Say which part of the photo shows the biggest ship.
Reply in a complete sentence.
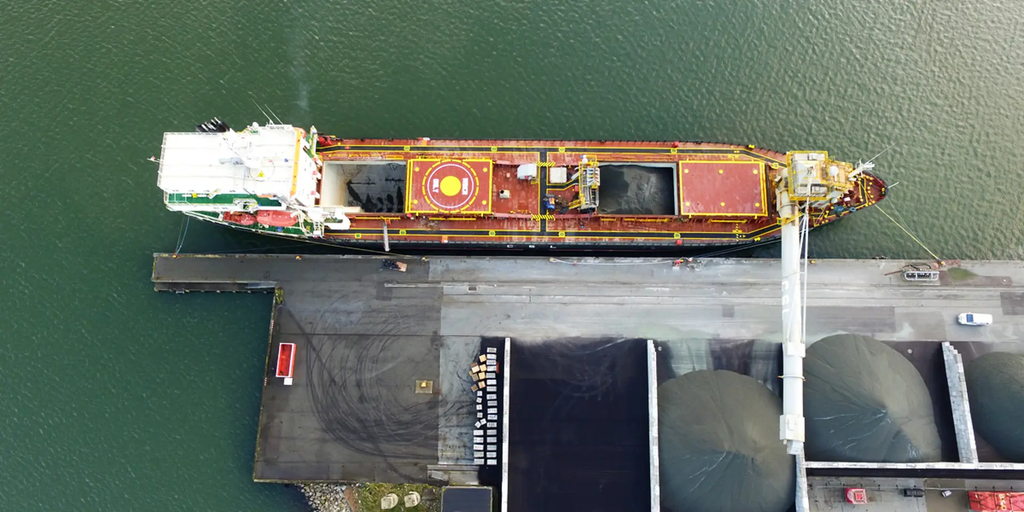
The biggest ship appears toward the center of the photo.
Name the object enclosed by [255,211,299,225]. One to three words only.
boat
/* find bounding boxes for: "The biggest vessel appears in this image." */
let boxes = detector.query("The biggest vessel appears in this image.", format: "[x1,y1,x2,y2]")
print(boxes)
[150,101,905,460]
